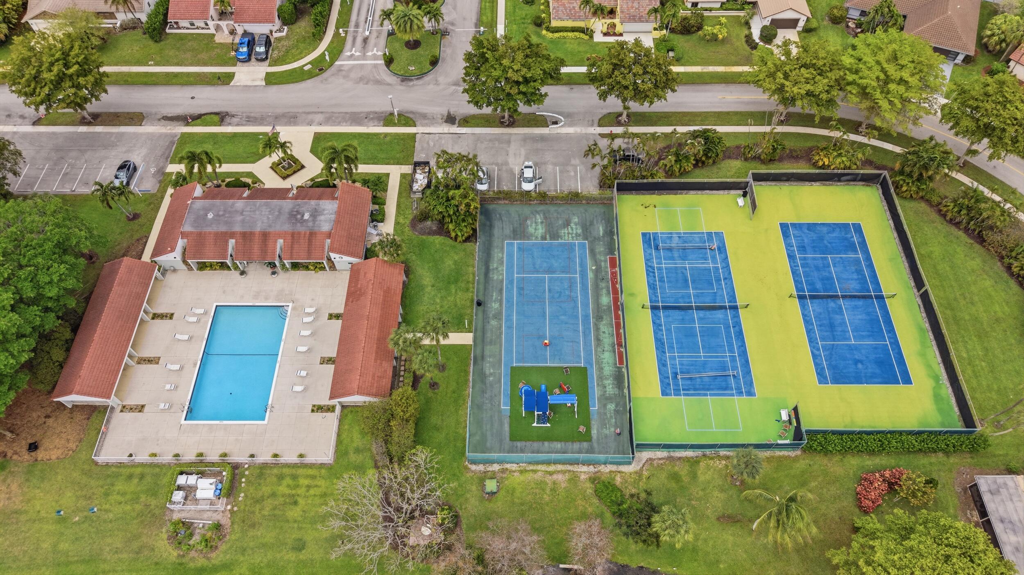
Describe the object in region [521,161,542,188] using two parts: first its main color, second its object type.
white car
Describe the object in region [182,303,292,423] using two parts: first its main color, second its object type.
blue swimming pool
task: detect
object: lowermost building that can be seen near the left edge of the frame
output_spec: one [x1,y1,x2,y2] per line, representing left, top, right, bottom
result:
[51,257,162,407]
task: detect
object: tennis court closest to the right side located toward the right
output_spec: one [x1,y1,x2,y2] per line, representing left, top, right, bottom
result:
[746,185,961,438]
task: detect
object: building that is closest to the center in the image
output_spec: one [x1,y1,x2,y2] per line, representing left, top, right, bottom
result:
[329,256,405,407]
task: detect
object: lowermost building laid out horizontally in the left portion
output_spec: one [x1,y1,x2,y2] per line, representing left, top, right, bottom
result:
[149,181,372,271]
